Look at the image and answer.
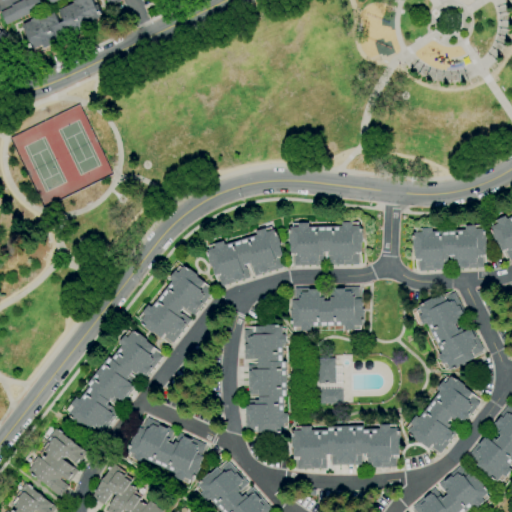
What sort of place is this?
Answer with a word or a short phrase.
residential area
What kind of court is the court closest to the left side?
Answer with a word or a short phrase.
tennis court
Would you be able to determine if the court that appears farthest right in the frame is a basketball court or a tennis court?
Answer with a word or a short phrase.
tennis court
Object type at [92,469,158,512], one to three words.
building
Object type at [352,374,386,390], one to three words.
swimming pool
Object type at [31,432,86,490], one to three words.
building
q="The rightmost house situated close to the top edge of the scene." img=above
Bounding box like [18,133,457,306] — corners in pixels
[22,0,100,50]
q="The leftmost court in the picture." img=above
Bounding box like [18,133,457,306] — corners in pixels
[12,121,78,202]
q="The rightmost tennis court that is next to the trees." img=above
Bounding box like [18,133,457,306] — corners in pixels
[46,104,112,188]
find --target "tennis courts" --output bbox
[12,121,78,202]
[46,104,112,188]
